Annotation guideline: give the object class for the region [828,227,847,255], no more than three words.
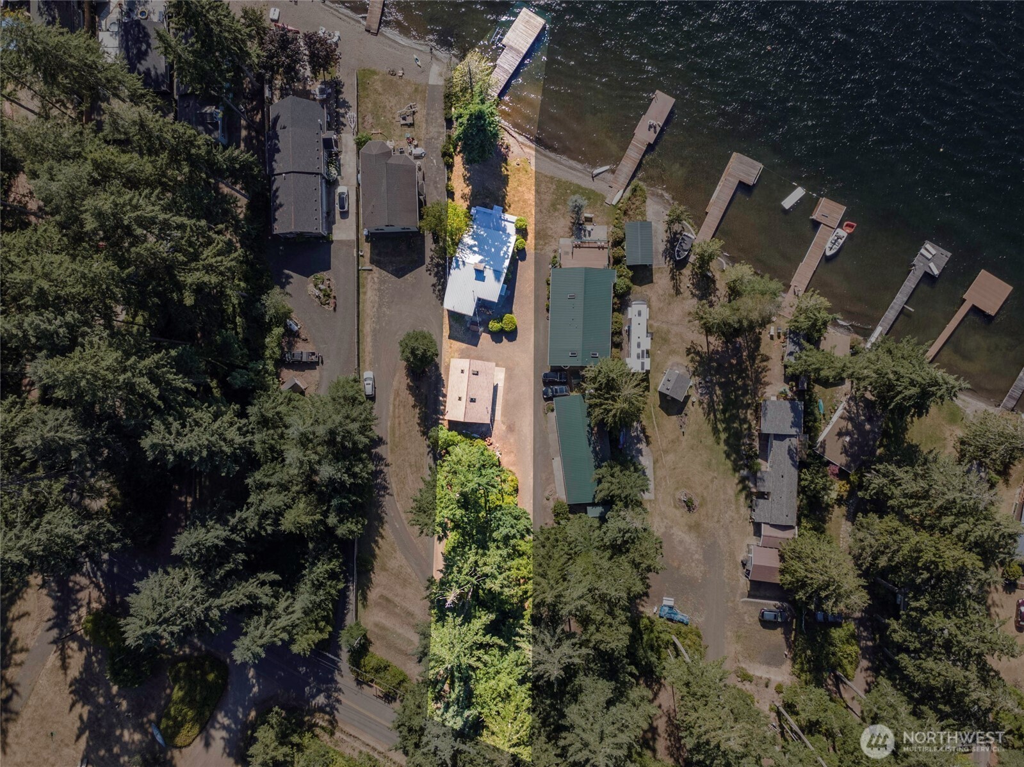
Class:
boat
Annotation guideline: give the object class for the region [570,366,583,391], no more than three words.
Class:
vehicle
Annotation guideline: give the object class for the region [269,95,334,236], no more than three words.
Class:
house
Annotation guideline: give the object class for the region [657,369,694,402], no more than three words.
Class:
shed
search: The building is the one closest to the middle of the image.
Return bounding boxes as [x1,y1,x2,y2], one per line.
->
[445,358,495,423]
